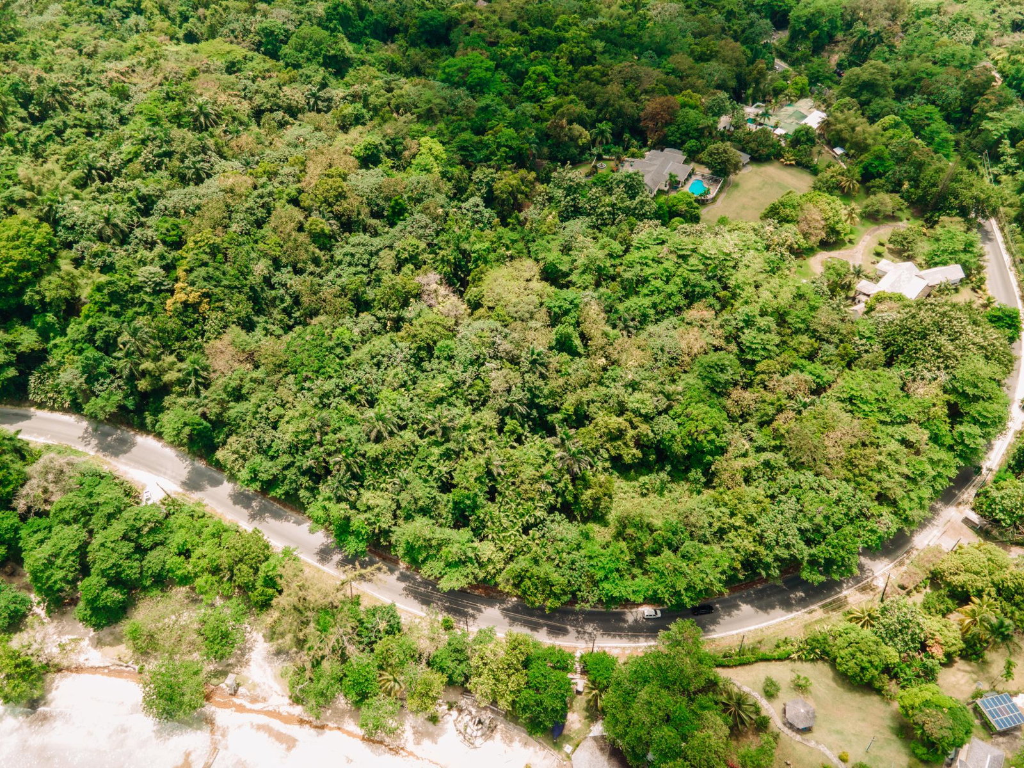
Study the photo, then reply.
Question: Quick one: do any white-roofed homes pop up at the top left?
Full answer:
No, the scene shows no white-roofed home at the top left.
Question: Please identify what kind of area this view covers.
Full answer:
The picture captures a forest.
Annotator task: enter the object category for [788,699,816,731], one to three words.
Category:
gazebo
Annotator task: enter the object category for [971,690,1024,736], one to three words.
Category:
house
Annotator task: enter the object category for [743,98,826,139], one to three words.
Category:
building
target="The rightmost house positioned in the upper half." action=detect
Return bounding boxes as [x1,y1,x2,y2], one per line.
[856,259,965,300]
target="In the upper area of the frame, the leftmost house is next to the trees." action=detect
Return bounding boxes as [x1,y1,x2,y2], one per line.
[619,149,695,195]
